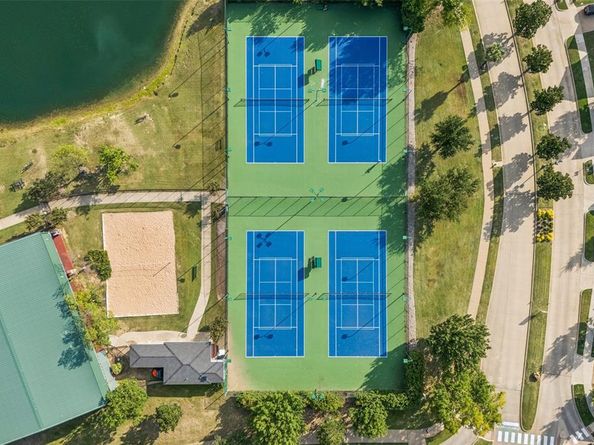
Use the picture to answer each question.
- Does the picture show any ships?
No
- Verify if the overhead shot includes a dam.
No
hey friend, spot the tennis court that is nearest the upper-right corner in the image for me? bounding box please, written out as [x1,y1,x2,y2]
[328,36,387,163]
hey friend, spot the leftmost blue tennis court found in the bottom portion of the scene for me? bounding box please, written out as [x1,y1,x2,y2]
[246,230,305,357]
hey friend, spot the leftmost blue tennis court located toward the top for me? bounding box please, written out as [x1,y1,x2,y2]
[246,36,305,163]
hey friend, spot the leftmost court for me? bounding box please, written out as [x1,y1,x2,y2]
[102,211,178,317]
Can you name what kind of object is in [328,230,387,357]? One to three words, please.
tennis court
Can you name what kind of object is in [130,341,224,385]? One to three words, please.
building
